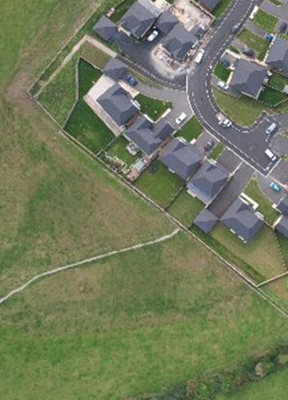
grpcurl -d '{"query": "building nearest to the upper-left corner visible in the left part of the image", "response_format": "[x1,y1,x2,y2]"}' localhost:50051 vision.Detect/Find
[95,16,118,40]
